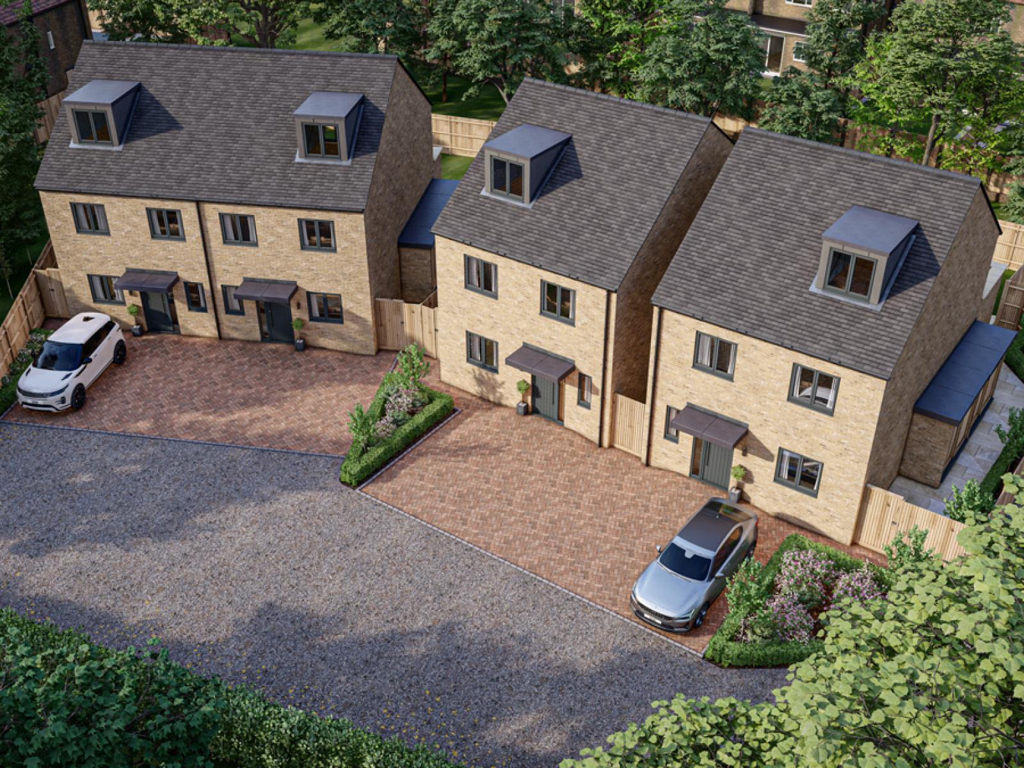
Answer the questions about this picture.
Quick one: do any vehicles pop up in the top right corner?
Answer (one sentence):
No, the scene shows no vehicle in the top right corner.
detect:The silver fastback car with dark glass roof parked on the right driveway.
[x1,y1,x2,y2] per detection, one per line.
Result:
[632,494,766,637]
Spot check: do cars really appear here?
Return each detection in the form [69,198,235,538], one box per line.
[6,310,130,413]
[632,494,766,637]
